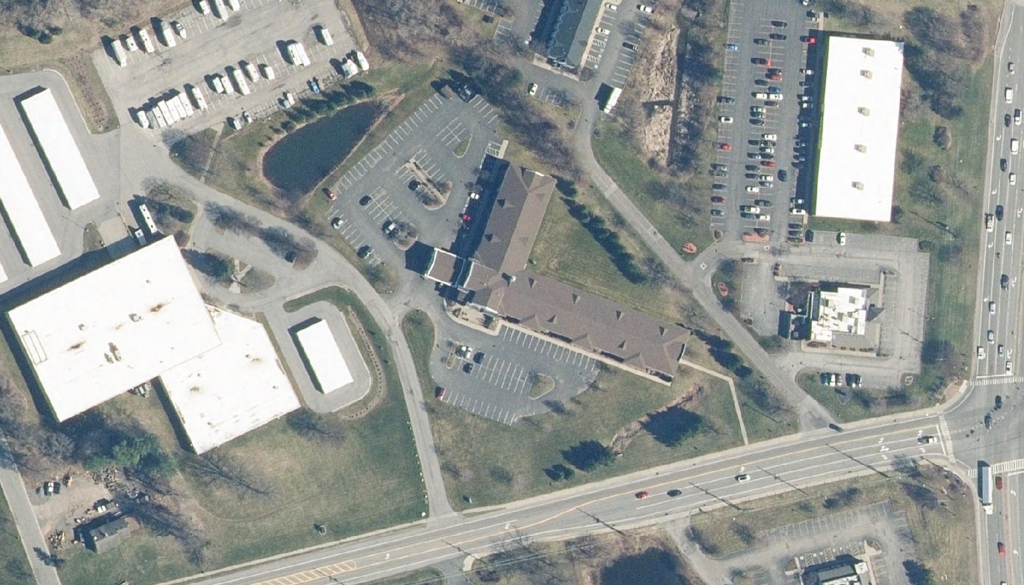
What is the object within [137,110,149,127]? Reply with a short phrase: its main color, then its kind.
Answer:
white vehicle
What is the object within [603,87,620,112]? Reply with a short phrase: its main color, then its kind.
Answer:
white vehicle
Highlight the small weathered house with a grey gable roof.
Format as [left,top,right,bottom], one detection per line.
[89,518,135,554]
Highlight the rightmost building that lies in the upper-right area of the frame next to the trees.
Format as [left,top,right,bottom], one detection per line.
[815,36,904,222]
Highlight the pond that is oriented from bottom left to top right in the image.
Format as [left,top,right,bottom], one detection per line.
[263,99,387,195]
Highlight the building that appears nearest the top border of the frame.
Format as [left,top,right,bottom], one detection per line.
[544,0,603,73]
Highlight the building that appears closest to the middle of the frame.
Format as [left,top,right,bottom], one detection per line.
[425,163,691,377]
